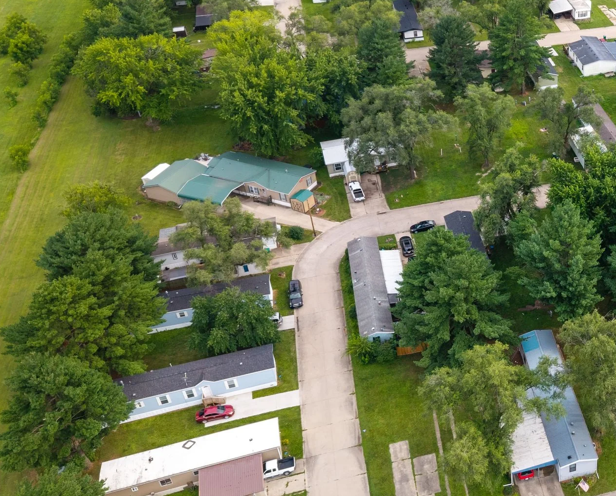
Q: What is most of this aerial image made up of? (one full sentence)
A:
What you mostly see from above here is trees.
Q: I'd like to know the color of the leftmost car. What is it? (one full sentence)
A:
The leftmost car is red.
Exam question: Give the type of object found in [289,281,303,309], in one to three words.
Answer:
car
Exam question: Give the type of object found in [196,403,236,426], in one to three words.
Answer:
car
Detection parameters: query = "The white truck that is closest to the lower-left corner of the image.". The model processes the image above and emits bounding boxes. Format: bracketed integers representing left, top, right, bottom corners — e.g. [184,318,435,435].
[265,453,303,482]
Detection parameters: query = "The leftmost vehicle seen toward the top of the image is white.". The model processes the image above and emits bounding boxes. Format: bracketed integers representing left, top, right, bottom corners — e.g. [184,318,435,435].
[349,182,365,203]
